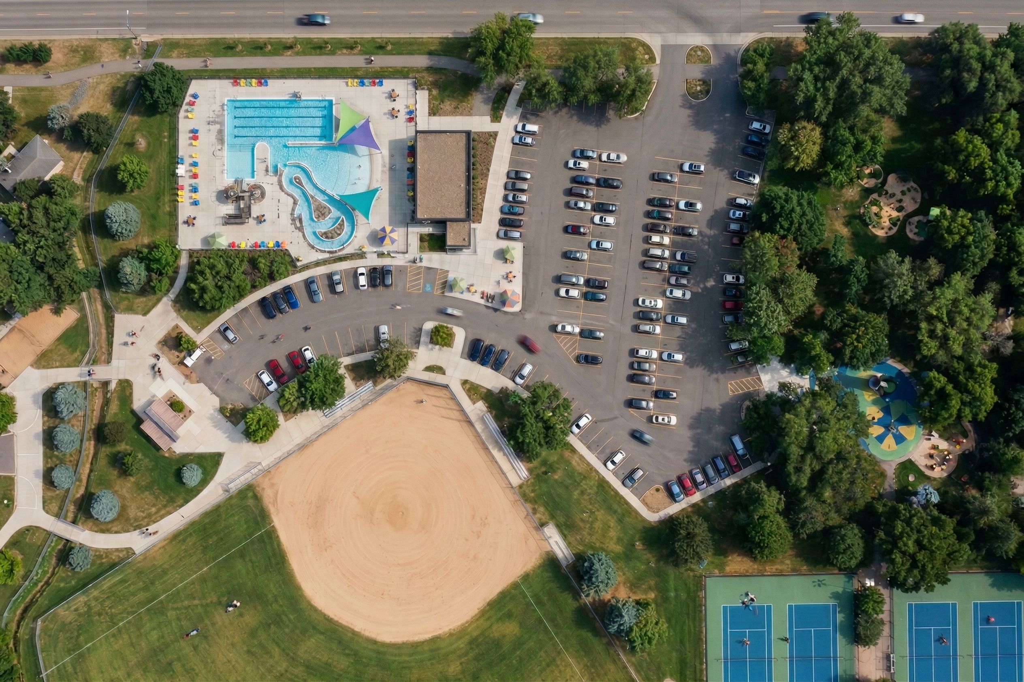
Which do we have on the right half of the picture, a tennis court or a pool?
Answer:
tennis court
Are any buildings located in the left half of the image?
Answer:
Yes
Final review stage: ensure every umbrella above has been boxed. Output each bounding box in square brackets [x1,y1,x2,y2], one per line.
[378,226,397,245]
[501,246,517,260]
[451,276,466,293]
[207,231,225,249]
[500,288,520,309]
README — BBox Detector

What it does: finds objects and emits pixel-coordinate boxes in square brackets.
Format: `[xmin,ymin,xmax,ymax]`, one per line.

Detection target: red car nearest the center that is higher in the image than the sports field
[517,333,538,350]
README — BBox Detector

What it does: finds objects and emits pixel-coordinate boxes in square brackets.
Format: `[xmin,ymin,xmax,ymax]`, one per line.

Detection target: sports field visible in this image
[37,379,637,682]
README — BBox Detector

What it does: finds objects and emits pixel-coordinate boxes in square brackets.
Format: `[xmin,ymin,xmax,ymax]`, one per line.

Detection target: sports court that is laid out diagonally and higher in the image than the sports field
[0,297,80,388]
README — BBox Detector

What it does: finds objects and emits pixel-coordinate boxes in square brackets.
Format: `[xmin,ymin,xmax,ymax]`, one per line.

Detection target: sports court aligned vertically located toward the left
[17,410,41,509]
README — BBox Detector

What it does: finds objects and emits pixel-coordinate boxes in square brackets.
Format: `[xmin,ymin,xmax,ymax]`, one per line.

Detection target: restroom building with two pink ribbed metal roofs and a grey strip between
[140,398,184,451]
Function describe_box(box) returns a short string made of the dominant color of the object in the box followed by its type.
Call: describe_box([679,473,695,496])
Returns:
red car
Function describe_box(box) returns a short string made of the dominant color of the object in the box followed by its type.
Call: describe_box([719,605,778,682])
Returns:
blue tennis court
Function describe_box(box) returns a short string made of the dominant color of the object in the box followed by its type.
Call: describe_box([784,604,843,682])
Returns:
blue tennis court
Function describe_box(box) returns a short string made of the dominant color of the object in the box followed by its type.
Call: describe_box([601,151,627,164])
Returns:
white vehicle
